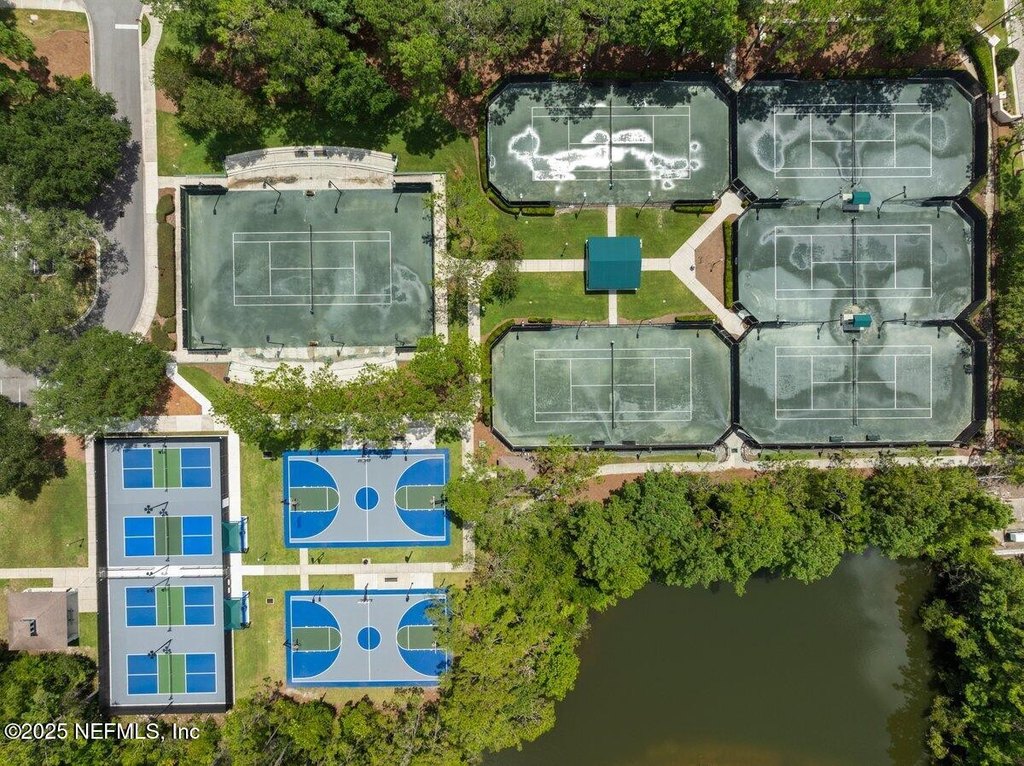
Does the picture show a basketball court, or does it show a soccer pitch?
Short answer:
basketball court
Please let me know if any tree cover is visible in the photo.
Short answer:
Yes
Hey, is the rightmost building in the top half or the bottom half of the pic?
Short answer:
top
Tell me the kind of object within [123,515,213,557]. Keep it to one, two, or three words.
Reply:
sports court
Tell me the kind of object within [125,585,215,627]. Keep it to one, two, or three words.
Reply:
sports court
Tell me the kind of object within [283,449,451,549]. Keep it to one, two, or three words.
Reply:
basketball court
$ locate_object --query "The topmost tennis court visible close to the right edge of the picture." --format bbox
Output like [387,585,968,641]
[729,79,974,204]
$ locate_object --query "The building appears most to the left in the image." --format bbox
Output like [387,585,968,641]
[9,585,80,650]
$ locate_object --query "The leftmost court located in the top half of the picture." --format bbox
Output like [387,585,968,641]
[191,190,434,348]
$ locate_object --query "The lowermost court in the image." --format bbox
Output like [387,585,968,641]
[126,653,216,695]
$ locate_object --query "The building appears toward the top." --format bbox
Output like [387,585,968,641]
[583,236,642,293]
